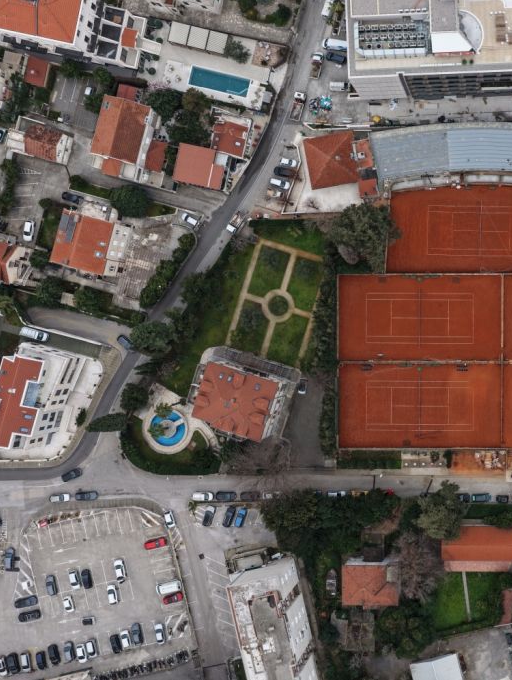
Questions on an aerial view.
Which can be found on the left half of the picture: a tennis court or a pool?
pool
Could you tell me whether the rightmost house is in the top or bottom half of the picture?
bottom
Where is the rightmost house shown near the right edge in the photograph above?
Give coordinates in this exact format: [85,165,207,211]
[441,523,512,573]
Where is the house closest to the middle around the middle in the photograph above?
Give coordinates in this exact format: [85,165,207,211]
[186,346,299,442]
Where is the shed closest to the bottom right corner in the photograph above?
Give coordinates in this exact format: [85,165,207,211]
[410,646,465,680]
